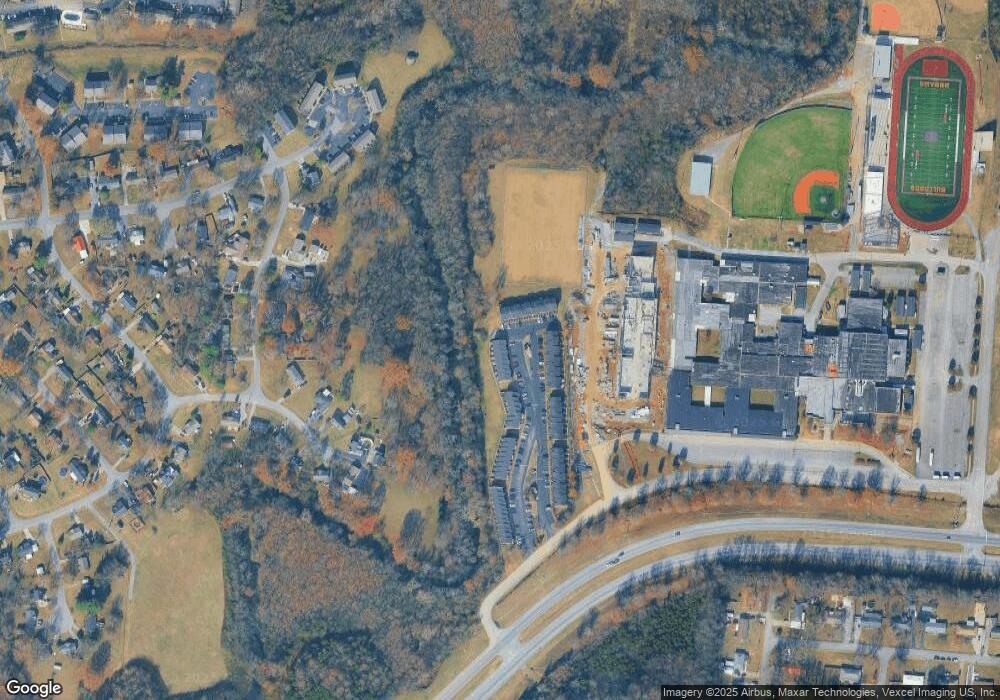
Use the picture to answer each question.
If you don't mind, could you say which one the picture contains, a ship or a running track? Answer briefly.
running track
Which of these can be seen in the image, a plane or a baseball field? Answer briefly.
baseball field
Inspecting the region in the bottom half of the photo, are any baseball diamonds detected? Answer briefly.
No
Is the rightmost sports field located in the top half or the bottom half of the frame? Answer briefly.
top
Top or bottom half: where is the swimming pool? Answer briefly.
top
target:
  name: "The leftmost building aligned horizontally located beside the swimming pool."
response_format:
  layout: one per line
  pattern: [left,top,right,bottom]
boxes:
[4,11,61,31]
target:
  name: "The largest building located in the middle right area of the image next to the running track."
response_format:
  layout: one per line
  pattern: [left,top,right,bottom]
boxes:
[666,259,908,438]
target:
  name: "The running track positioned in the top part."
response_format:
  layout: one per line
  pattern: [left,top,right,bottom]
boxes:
[887,44,976,231]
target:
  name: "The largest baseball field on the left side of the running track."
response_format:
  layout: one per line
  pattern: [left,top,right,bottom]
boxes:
[732,106,851,222]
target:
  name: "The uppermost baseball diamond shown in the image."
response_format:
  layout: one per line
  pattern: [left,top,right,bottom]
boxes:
[872,3,900,31]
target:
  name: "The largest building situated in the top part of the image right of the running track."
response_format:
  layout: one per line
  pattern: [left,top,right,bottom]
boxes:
[975,131,996,149]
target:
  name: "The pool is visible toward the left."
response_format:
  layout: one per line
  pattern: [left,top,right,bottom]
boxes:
[62,10,86,29]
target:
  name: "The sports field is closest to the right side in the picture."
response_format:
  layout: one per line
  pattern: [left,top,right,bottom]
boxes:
[895,56,968,223]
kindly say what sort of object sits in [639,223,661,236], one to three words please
shed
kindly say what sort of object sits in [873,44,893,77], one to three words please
building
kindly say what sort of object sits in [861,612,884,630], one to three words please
house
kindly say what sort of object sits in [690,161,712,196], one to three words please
barn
